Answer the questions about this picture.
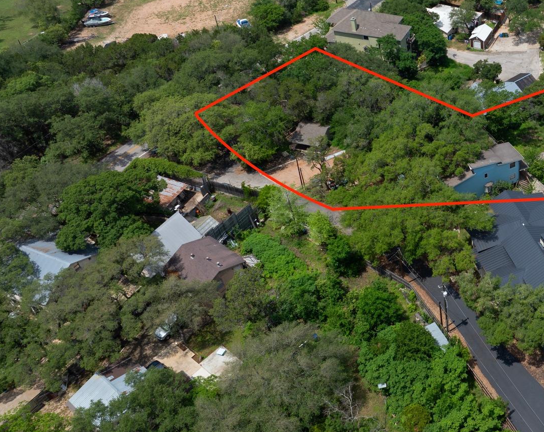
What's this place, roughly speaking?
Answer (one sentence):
The picture captures a residential area.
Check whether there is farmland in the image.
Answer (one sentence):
No, the scene doesn't show any farmland.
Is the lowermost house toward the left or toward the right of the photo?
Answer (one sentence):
The lowermost house appears in the left half of the scene.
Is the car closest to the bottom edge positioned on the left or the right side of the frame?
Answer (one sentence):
You can find the car closest to the bottom edge on the left side of the picture.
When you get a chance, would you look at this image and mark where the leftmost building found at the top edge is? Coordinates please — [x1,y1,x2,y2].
[326,7,416,60]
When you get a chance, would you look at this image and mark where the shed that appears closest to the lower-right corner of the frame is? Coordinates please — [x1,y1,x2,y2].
[426,322,448,353]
